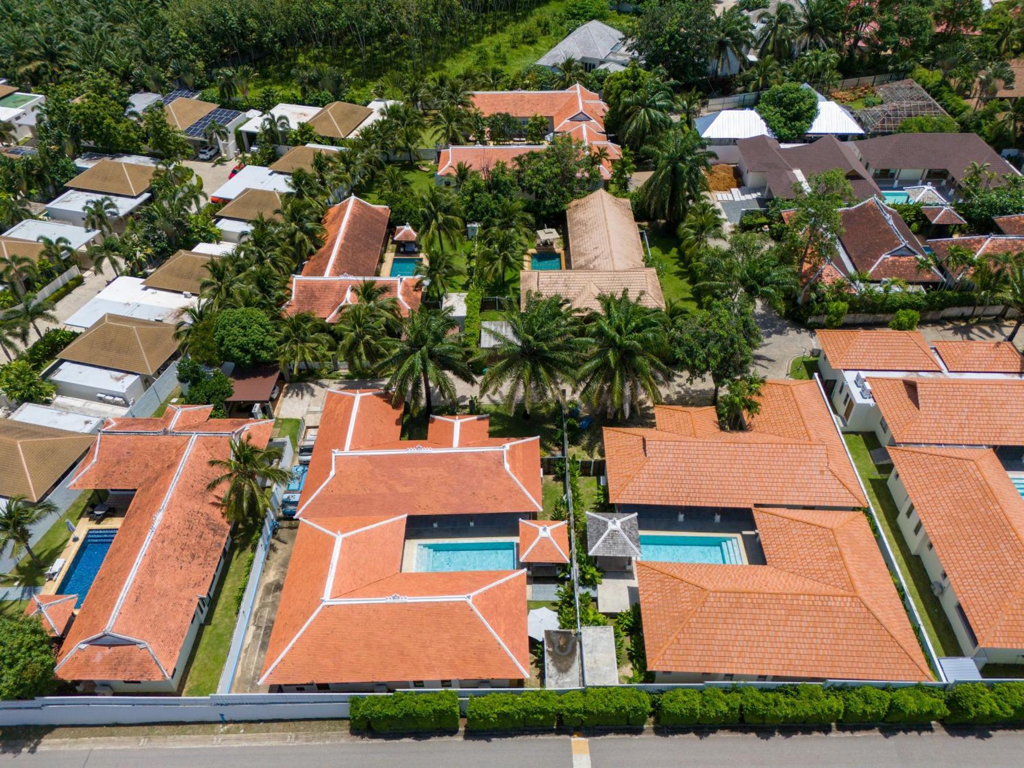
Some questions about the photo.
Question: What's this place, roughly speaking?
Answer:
residential area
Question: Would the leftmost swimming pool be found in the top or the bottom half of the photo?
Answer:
bottom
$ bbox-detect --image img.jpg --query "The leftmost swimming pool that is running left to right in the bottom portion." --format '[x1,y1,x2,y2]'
[409,538,520,572]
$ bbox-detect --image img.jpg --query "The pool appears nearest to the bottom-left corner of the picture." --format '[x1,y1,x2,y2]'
[52,526,121,614]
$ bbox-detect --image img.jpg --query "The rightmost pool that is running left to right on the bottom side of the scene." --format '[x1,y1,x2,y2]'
[632,530,746,570]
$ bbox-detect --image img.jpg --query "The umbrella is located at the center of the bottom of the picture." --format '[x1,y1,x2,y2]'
[527,609,559,640]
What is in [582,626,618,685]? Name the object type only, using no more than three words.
shed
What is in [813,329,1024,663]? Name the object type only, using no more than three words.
house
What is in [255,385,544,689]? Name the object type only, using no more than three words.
house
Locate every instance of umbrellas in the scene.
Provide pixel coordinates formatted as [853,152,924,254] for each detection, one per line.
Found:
[57,523,79,542]
[527,609,559,640]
